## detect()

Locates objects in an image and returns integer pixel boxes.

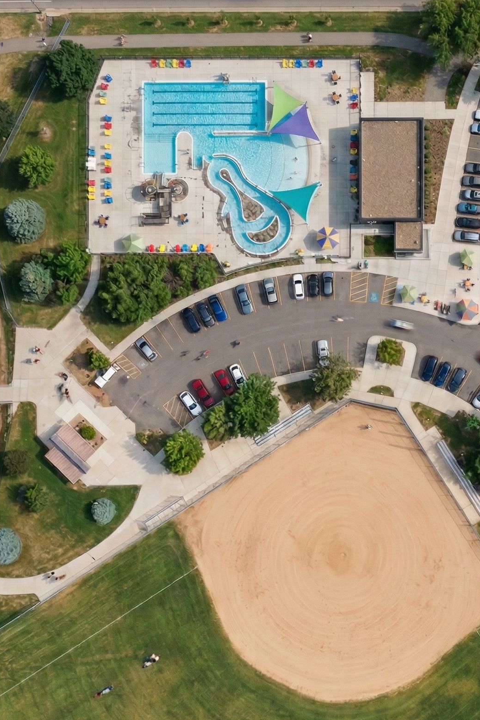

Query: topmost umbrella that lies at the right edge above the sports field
[457,250,475,266]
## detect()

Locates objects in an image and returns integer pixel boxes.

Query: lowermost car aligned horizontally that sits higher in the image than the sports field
[390,318,415,332]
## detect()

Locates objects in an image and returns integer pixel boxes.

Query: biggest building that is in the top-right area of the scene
[359,118,424,257]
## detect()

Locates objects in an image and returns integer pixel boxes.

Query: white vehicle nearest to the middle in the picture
[230,364,246,386]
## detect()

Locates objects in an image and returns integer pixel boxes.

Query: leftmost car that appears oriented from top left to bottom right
[136,335,155,361]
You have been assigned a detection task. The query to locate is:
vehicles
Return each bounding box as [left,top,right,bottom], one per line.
[183,307,201,333]
[454,229,480,241]
[293,274,304,299]
[193,380,213,405]
[136,335,155,361]
[237,286,253,313]
[434,362,451,387]
[474,110,480,120]
[470,122,480,135]
[449,367,466,393]
[474,394,480,407]
[464,177,480,187]
[322,272,334,297]
[208,293,227,323]
[307,274,319,297]
[181,391,201,415]
[457,201,480,213]
[462,161,480,172]
[263,275,279,306]
[390,318,415,332]
[456,216,480,228]
[422,356,439,382]
[230,364,246,386]
[197,302,214,327]
[463,188,480,200]
[215,370,231,393]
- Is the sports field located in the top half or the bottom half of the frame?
bottom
